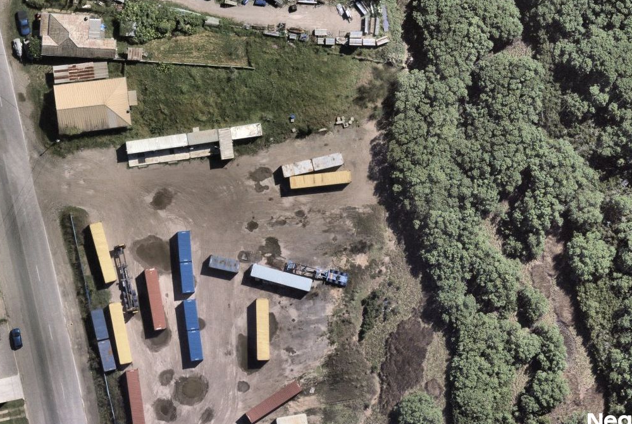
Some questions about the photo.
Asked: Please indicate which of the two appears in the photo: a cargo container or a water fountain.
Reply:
cargo container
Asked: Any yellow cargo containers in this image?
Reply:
Yes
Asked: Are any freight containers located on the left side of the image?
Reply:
Yes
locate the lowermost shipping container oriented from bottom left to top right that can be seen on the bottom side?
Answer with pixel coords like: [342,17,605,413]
[245,379,304,424]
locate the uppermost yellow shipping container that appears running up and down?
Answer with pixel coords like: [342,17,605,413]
[90,220,116,283]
